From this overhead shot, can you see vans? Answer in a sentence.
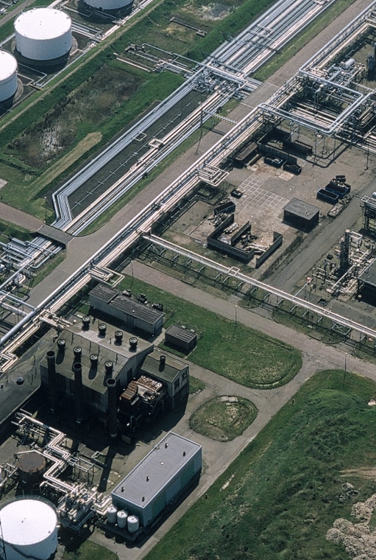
No, this view has no van in it.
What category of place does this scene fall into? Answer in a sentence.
The picture captures an industrial area.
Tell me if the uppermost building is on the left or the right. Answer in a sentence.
The uppermost building is on the right side of the image.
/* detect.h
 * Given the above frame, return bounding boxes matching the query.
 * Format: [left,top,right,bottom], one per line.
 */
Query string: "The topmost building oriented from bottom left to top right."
[234,143,260,166]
